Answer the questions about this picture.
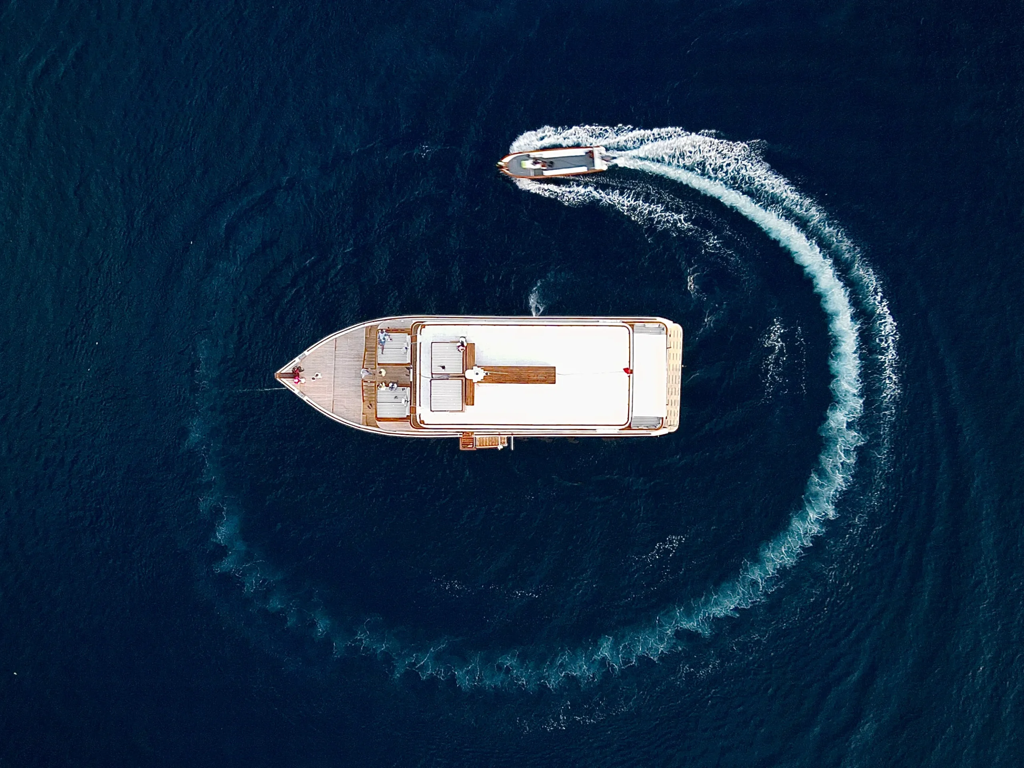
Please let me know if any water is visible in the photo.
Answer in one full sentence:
Yes, water can be seen from above here.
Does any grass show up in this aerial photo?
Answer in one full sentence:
No, the picture contains no grass.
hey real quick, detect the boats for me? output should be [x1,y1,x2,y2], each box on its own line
[275,316,683,450]
[497,146,615,179]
